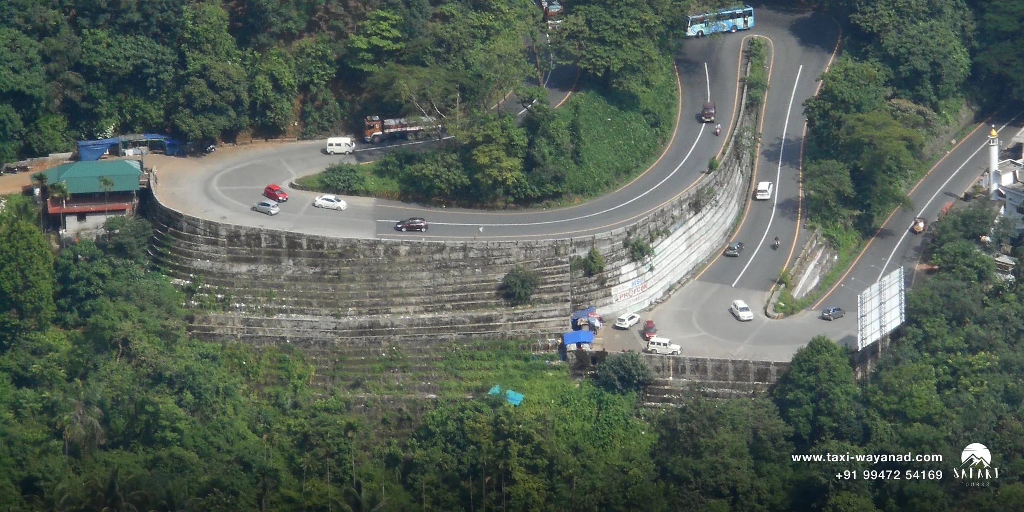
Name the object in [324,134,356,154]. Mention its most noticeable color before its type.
white vehicle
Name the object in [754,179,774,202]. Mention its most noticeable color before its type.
white car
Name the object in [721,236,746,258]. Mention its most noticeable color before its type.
gray car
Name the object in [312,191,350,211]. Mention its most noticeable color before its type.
white car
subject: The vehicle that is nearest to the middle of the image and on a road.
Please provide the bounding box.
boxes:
[395,213,430,232]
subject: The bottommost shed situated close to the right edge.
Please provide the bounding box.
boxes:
[994,252,1024,280]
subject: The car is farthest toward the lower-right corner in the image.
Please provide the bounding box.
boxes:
[817,302,849,321]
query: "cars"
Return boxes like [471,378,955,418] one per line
[730,291,757,322]
[312,191,350,211]
[395,213,430,232]
[260,179,292,202]
[249,196,283,215]
[817,302,849,321]
[644,332,684,355]
[700,97,717,121]
[641,314,659,339]
[721,236,746,258]
[611,309,644,332]
[754,179,774,202]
